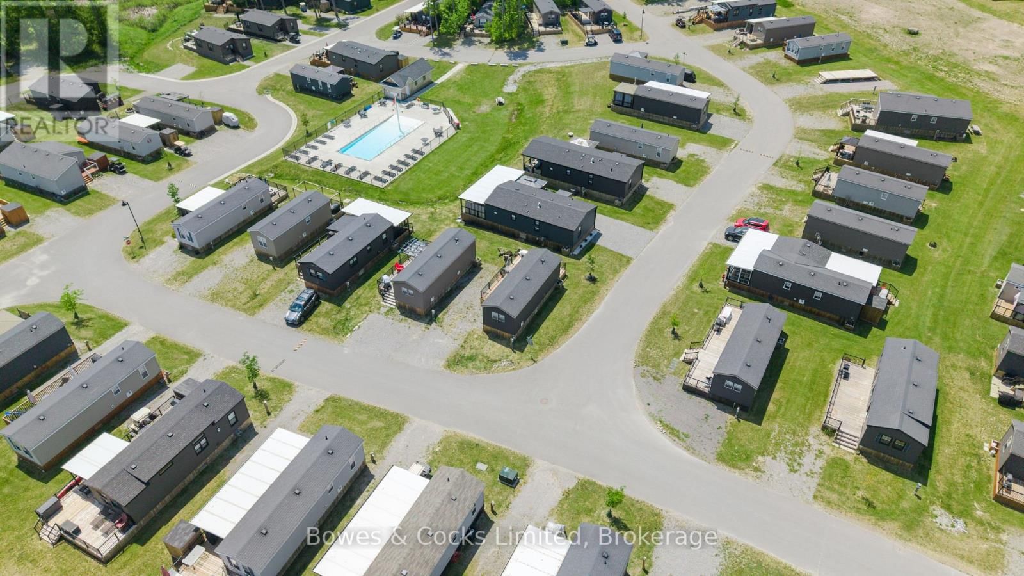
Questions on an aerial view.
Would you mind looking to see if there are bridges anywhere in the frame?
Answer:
No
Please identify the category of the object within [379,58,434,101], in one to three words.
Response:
building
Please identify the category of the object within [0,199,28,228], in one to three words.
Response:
shed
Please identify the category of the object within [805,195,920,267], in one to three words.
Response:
house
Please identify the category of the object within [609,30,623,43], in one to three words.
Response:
vehicle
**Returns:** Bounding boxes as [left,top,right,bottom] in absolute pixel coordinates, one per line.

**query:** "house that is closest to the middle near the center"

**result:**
[481,249,562,339]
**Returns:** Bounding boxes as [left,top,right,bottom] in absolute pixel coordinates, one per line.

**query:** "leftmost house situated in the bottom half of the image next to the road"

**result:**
[0,312,75,401]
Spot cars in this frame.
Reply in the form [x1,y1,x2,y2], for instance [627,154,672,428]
[722,225,761,240]
[609,30,623,43]
[734,216,771,233]
[282,290,319,325]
